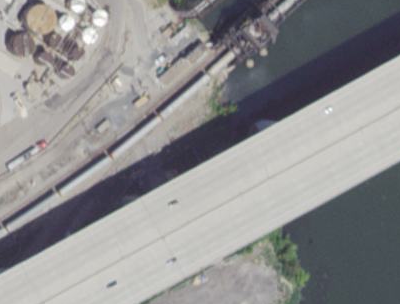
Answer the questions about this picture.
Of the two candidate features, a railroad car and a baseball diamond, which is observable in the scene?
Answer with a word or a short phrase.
railroad car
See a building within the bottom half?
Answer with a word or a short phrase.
No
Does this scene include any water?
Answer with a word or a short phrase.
Yes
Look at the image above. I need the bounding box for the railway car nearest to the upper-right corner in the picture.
[274,0,298,17]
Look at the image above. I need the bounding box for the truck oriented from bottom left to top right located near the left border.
[6,144,46,170]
